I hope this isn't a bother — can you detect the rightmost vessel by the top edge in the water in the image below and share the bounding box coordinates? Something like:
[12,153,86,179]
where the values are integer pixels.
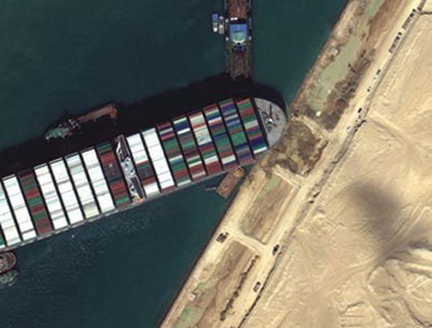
[226,0,252,78]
